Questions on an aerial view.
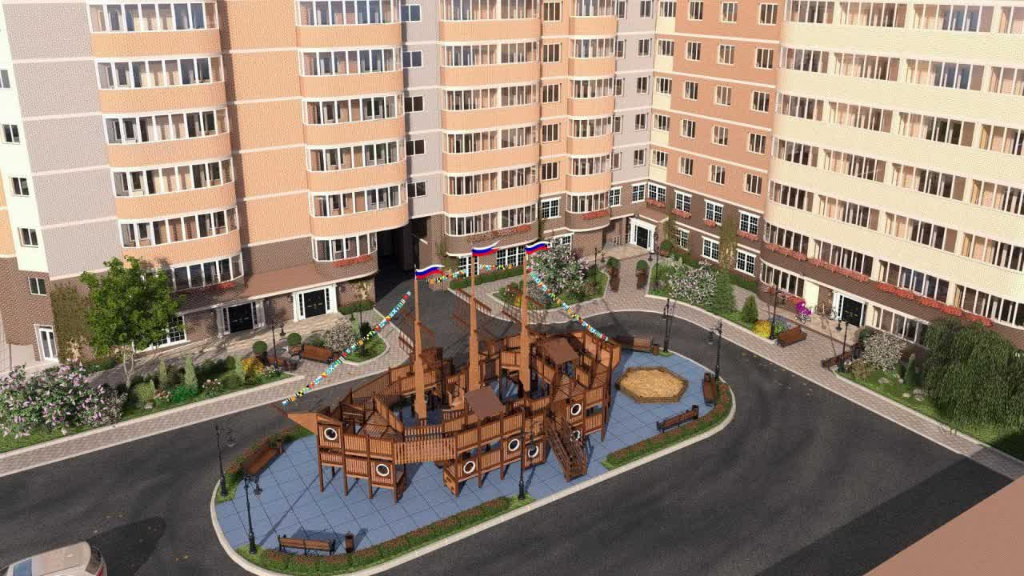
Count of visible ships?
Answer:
1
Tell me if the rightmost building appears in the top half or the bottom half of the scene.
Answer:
bottom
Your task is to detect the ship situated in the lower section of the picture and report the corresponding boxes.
[272,238,618,502]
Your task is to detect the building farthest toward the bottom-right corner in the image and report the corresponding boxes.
[865,494,1024,576]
